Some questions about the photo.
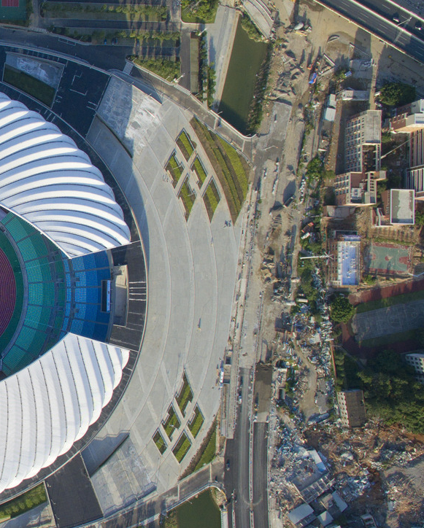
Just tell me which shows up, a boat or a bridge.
bridge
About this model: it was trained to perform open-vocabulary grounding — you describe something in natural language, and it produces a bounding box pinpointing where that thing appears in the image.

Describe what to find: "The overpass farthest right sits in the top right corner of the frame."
[310,0,424,68]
